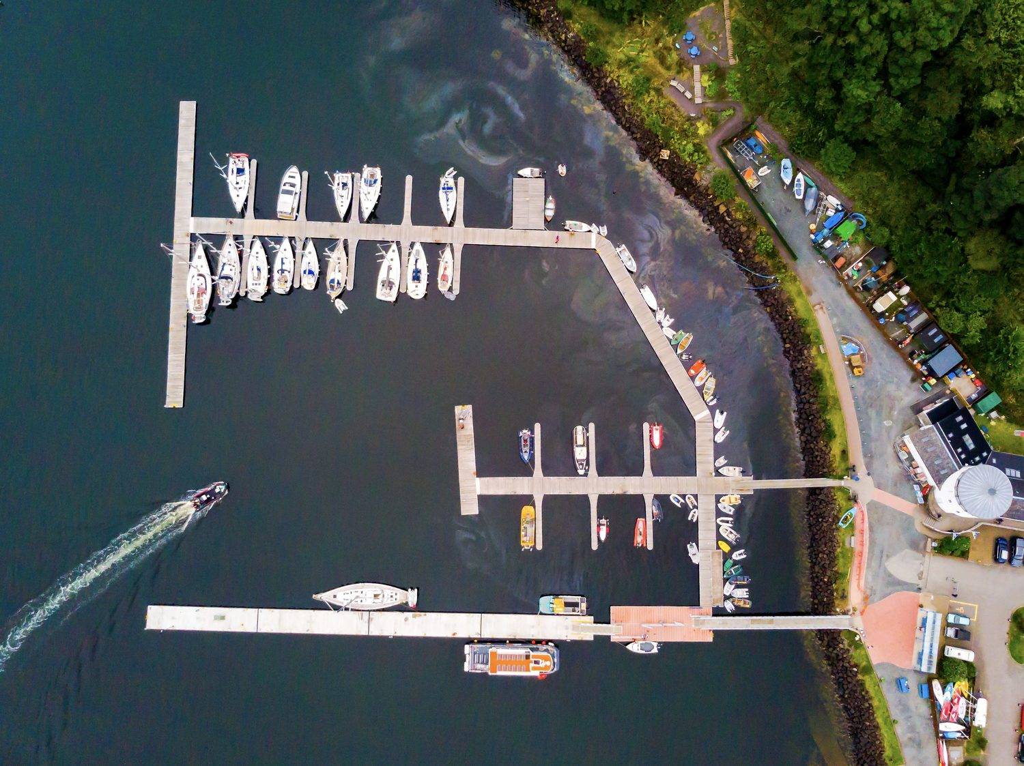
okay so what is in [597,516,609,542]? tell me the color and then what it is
white boat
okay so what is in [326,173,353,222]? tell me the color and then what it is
white boat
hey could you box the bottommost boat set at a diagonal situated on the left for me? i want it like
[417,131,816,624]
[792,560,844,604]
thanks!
[191,483,230,513]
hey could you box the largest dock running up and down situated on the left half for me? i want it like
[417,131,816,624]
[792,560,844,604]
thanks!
[164,101,197,407]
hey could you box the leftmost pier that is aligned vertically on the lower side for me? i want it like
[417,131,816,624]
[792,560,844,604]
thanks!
[455,405,479,515]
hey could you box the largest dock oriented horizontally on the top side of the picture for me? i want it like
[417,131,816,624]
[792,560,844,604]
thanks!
[190,160,595,296]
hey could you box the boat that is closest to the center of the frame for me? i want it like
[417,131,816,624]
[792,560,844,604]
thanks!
[519,428,533,463]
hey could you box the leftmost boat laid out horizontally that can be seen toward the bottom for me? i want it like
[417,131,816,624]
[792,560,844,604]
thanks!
[309,582,409,612]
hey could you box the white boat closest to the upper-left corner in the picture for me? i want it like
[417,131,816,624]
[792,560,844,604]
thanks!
[205,151,252,217]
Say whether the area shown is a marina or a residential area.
marina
